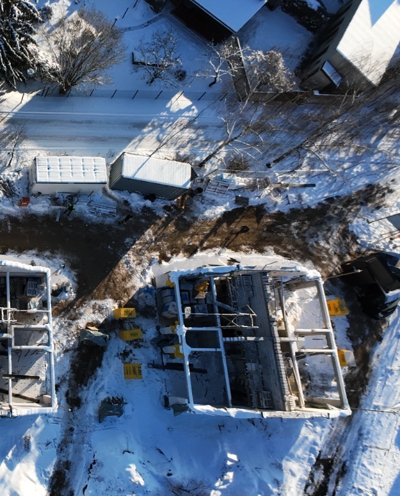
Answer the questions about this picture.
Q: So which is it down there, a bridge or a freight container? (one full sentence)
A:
There is a freight container in the scene.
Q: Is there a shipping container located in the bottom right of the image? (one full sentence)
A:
No, there is no shipping container in the bottom right of the image.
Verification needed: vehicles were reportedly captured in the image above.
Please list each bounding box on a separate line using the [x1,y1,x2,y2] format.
[363,246,400,287]
[331,255,400,323]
